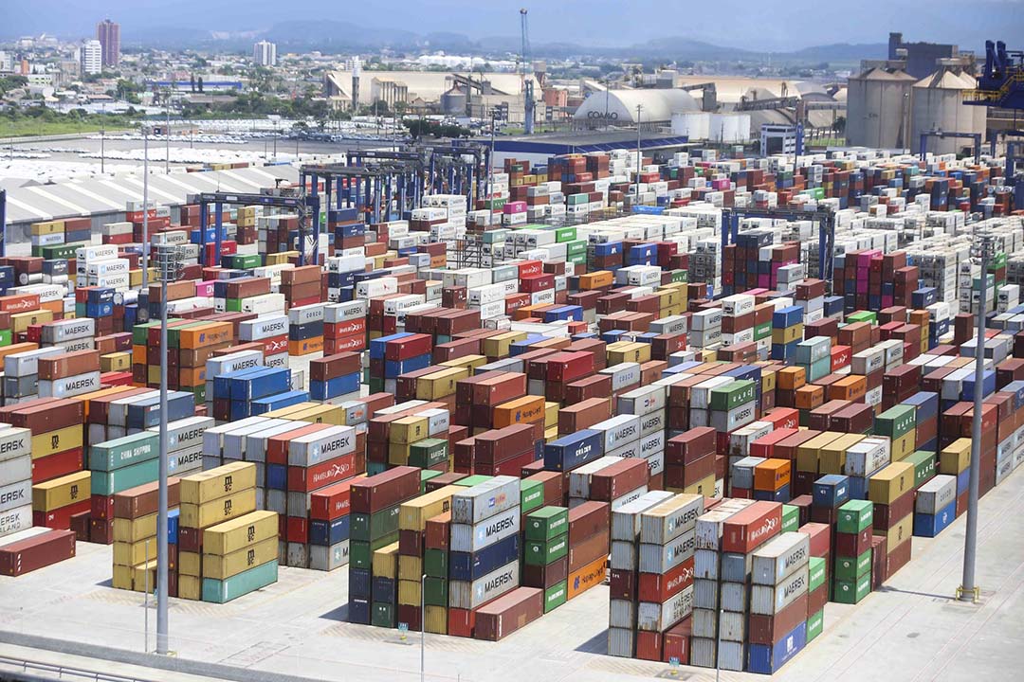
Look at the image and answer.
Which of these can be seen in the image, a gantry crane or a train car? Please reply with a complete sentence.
The image shows a gantry crane.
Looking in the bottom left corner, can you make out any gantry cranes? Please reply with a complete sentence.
No, I can find no gantry crane in the bottom left corner.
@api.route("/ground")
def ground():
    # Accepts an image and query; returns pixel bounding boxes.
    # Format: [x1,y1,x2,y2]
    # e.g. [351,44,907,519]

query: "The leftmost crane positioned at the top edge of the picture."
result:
[521,6,539,132]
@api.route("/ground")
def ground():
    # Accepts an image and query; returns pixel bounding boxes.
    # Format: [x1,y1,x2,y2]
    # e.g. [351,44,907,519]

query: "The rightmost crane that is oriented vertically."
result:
[966,42,1024,199]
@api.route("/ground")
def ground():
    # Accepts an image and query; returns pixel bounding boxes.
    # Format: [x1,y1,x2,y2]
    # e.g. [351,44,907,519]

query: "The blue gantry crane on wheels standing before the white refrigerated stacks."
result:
[714,192,836,293]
